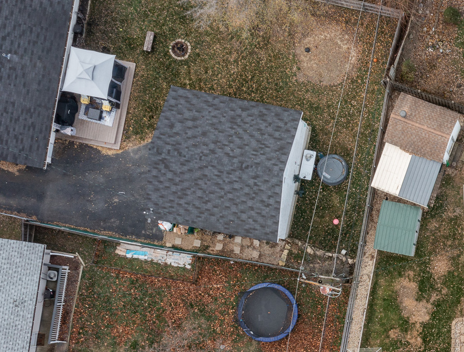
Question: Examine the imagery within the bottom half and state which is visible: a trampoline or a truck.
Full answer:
The feature located within the bottom half is a trampoline.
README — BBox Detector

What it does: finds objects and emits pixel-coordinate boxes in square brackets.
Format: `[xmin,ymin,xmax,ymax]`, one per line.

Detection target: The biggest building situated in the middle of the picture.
[147,87,312,242]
